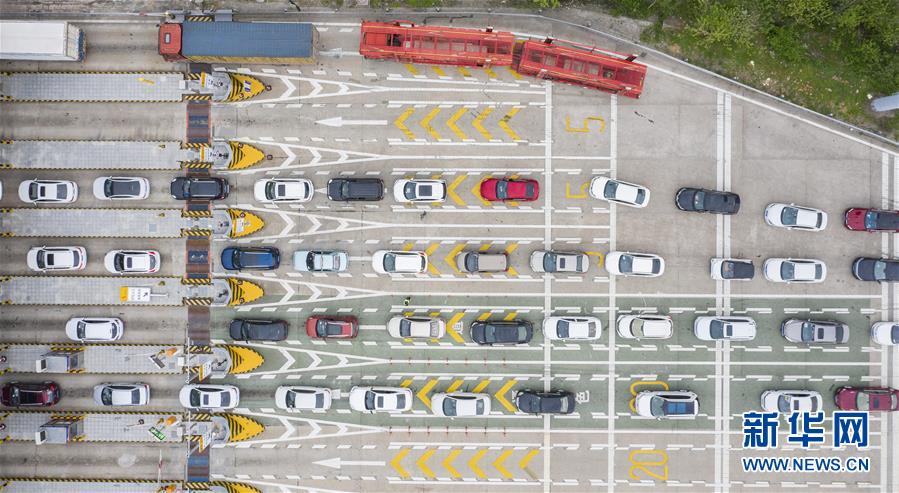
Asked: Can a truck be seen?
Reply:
Yes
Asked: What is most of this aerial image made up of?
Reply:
paved ground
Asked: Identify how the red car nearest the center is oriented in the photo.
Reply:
horizontally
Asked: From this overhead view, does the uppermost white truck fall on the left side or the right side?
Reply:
left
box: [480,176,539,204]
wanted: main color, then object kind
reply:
red car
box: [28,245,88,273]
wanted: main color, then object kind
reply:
white car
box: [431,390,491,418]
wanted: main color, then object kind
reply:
white car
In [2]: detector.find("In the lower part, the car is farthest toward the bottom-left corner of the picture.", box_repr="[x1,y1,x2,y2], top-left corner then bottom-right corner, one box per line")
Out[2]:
[1,381,61,409]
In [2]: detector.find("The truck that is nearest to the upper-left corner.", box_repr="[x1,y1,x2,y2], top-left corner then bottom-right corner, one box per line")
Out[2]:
[0,25,87,64]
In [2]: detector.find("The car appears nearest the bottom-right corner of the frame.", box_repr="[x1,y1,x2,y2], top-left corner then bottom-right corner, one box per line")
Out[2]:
[831,386,899,413]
